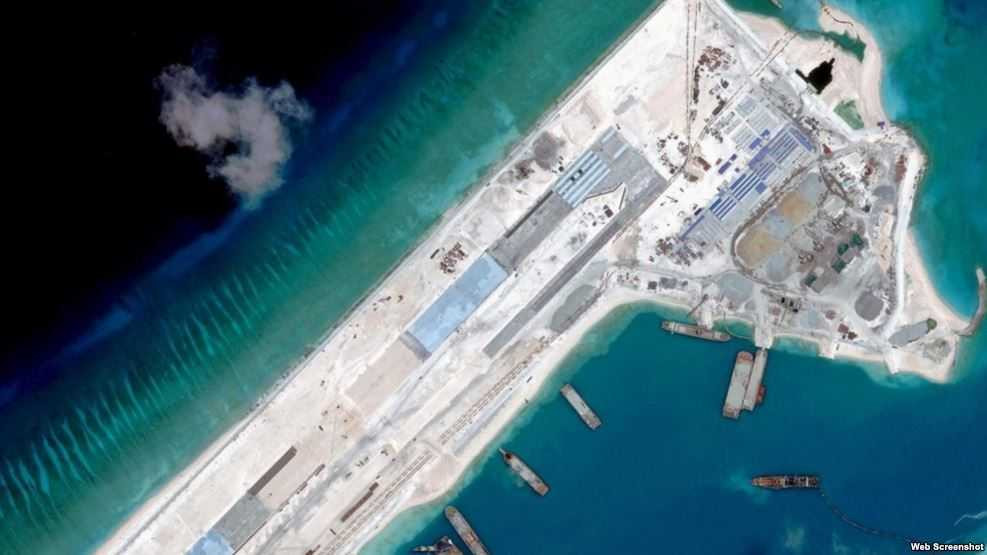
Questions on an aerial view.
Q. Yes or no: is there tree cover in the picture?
No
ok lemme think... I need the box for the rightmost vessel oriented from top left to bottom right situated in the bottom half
[560,384,601,429]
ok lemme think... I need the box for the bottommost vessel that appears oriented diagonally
[447,507,488,555]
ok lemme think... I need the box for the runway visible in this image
[183,149,617,555]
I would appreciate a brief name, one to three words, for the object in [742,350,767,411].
ship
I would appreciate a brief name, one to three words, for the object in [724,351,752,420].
ship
